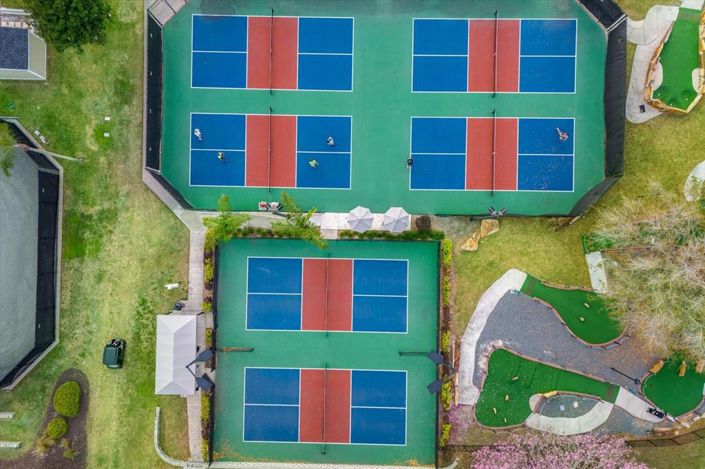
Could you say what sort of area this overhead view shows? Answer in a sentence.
This looks like a sports ground.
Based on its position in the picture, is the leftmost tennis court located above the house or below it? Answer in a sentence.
You can see the leftmost tennis court below the house in the frame.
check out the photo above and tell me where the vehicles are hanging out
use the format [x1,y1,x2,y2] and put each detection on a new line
[103,335,127,368]
[647,406,669,421]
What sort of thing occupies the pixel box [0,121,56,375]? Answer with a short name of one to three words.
tennis court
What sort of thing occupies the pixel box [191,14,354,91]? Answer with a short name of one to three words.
sports court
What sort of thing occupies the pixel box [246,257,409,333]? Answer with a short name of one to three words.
sports court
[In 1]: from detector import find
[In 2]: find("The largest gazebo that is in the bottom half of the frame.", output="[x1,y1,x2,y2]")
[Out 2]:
[155,312,204,394]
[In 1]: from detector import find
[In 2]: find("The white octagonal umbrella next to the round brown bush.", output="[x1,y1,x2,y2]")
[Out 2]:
[382,205,410,233]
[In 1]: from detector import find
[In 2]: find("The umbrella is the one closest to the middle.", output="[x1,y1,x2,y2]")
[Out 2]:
[346,205,375,234]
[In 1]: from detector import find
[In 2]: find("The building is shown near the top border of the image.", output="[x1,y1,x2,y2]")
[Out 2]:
[0,3,48,80]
